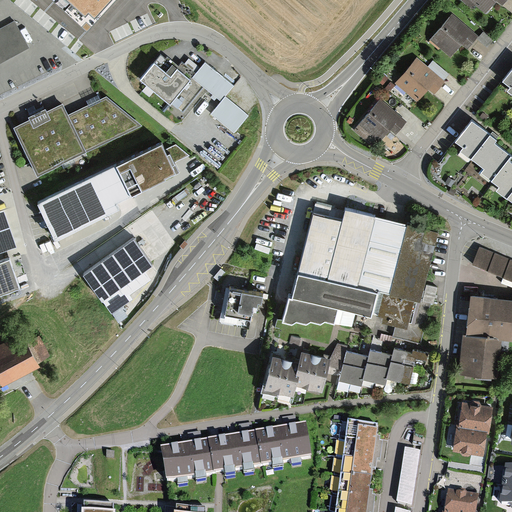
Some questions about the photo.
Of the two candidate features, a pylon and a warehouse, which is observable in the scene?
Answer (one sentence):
Looking from above, you can make out a warehouse.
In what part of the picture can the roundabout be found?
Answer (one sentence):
You can find the roundabout in the top area of the picture.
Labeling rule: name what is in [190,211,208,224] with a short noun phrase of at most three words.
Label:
vehicle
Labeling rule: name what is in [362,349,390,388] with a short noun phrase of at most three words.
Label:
house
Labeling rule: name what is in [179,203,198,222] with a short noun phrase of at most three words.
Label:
vehicle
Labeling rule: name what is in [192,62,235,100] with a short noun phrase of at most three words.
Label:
building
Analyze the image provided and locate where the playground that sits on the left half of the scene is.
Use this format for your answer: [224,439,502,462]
[130,460,164,494]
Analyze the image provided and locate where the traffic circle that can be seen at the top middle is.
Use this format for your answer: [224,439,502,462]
[266,94,336,162]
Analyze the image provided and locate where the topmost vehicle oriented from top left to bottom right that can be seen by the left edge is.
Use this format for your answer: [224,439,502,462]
[18,24,32,44]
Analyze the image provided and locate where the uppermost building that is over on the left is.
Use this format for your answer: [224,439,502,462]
[57,0,120,30]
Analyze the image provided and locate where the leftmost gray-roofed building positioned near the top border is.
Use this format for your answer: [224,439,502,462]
[0,22,30,65]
